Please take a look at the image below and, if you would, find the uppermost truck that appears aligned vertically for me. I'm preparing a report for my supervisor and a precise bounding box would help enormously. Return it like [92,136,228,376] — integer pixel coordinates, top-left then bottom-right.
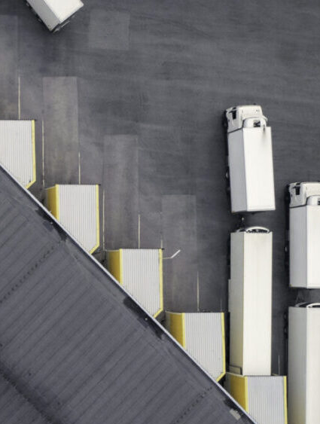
[222,106,276,214]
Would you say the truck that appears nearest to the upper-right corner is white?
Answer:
Yes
